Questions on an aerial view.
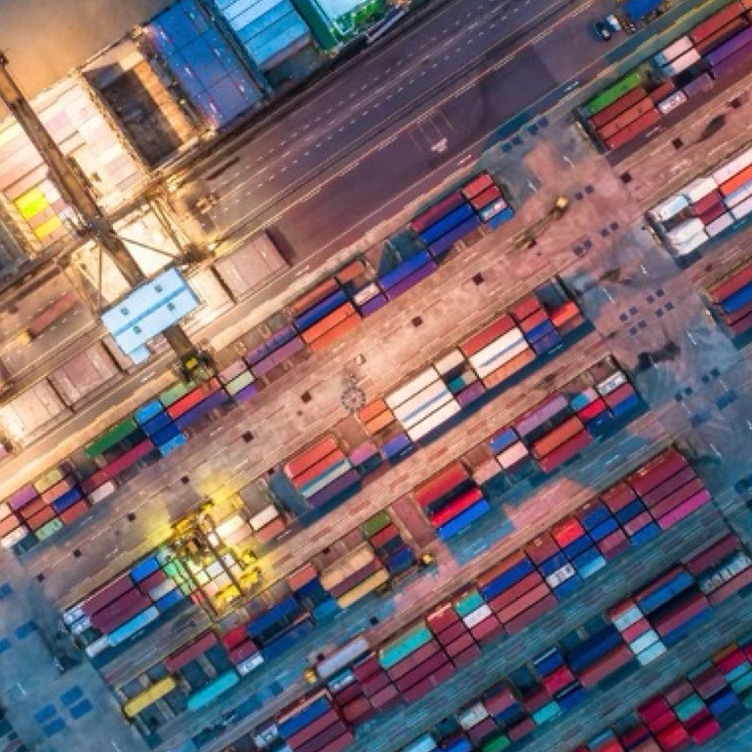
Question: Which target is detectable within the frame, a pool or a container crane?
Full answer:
It is a container crane that can be seen here.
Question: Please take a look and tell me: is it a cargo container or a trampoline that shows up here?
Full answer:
It is a cargo container that can be seen here.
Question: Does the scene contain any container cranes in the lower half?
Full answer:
Yes, in the lower half there is a container crane.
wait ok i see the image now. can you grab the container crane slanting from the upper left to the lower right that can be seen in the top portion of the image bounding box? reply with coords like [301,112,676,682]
[0,64,222,398]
